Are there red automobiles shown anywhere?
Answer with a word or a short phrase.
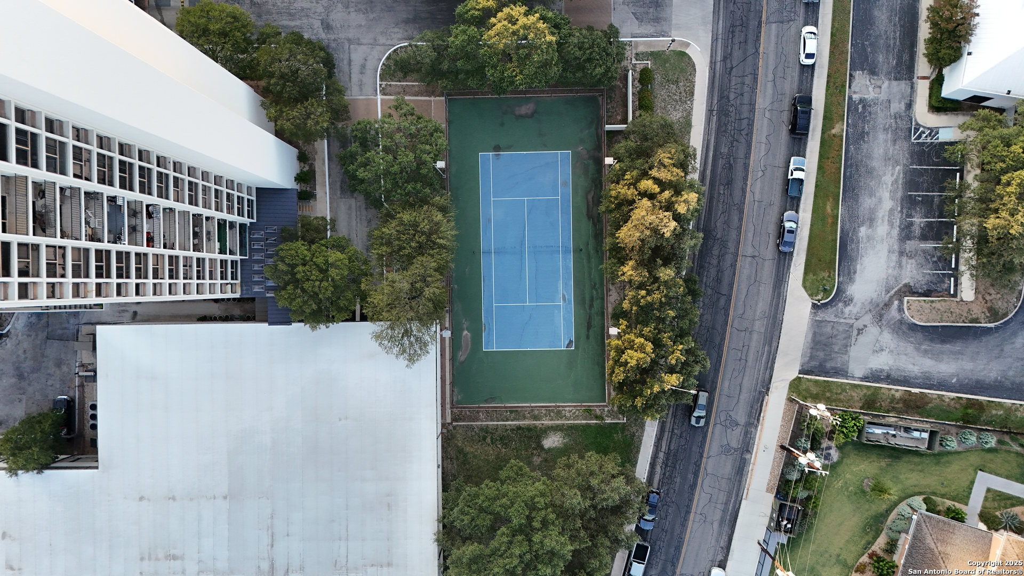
No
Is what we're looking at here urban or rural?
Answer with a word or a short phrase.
urban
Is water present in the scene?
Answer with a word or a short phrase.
No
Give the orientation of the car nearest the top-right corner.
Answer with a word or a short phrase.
vertically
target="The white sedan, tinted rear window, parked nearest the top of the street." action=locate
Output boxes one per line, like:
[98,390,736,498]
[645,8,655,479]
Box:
[799,24,822,66]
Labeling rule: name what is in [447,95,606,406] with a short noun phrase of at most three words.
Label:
tennis court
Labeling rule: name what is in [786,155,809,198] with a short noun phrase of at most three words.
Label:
truck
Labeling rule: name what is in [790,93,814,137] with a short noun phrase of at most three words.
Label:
car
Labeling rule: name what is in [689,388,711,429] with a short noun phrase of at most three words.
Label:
car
